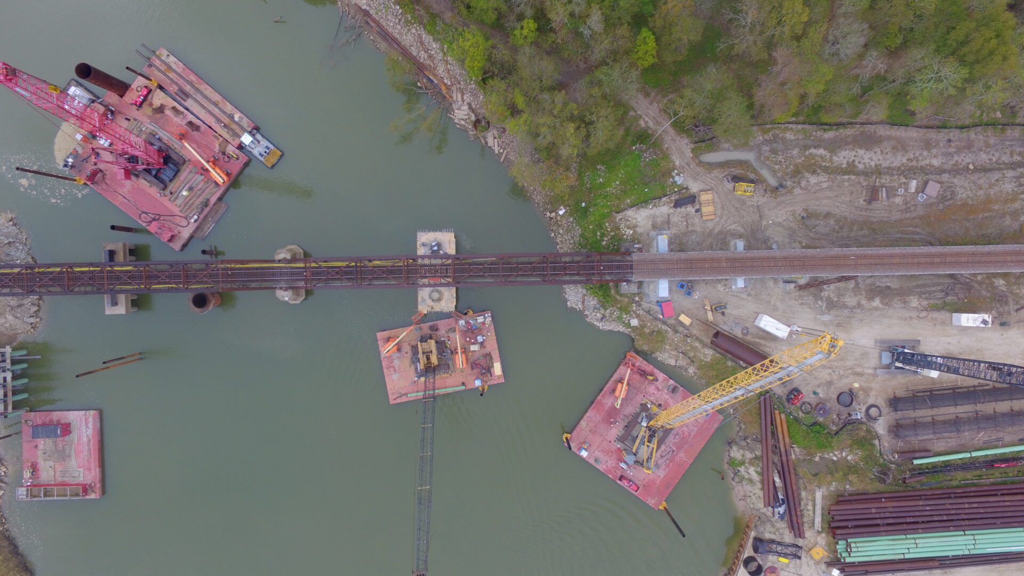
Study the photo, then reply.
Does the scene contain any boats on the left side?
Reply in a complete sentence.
Yes, on the left side there is a boat.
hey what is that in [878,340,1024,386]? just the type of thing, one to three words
crane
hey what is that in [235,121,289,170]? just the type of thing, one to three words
boat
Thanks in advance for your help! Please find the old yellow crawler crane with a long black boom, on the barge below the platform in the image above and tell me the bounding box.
[410,336,452,576]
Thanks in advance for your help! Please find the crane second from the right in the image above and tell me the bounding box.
[618,328,877,473]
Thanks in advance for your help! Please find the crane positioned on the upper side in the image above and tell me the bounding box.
[0,64,185,190]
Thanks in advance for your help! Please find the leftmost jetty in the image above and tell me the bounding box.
[0,345,41,417]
